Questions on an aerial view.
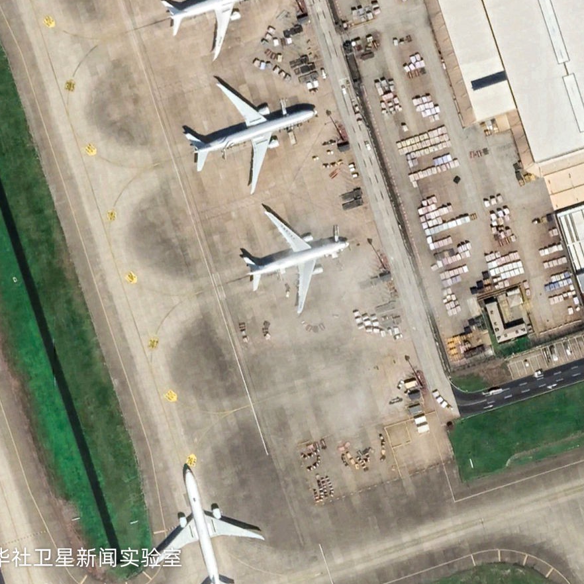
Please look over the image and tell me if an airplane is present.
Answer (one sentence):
Yes, an airplane can be made out from above.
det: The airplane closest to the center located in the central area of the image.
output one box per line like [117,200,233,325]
[243,213,349,314]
